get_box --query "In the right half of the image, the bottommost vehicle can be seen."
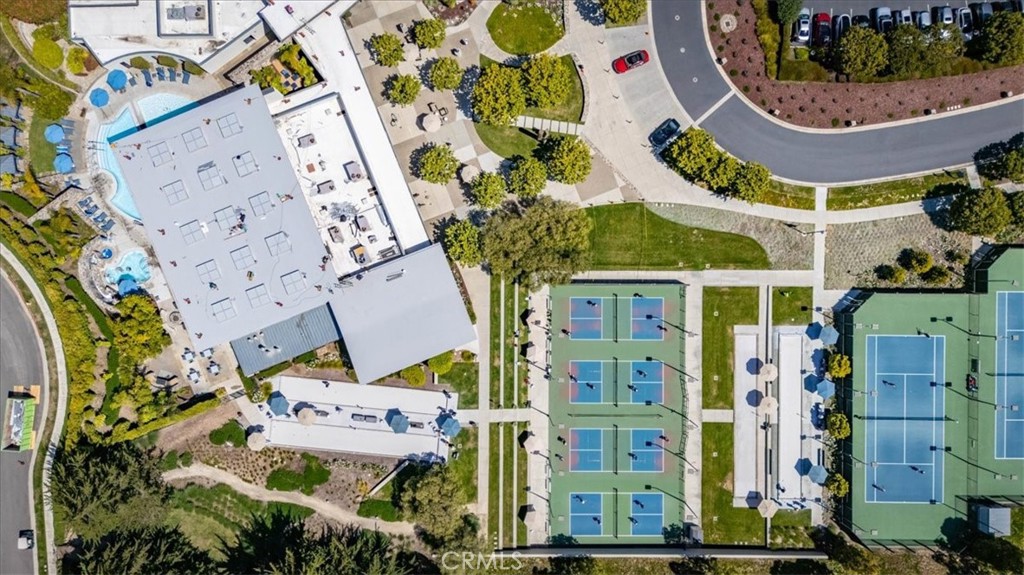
[647,117,682,145]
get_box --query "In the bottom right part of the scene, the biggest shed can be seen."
[972,506,1010,542]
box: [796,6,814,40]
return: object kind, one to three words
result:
car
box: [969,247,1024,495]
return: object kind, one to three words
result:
tennis court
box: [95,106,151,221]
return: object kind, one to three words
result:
swimming pool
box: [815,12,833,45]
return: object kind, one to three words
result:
car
